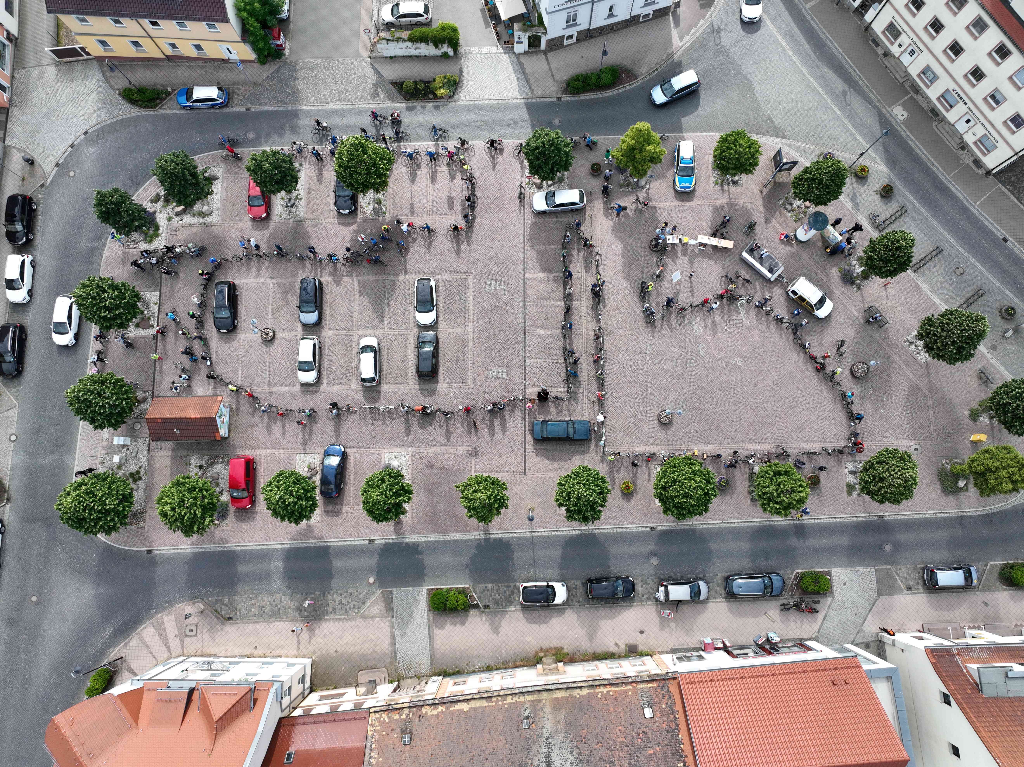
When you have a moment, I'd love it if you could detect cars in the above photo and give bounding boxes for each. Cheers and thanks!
[210,282,238,332]
[786,276,833,318]
[415,332,439,379]
[740,0,763,21]
[655,578,709,613]
[724,571,785,600]
[355,337,382,386]
[520,581,567,606]
[50,295,81,345]
[532,188,586,215]
[413,277,437,326]
[649,71,704,109]
[331,160,357,214]
[177,86,230,113]
[294,337,321,384]
[381,1,431,26]
[296,278,323,325]
[243,169,270,219]
[1,195,37,246]
[533,417,591,442]
[0,324,31,376]
[673,140,699,192]
[6,255,39,304]
[226,456,255,508]
[922,566,978,592]
[586,575,635,601]
[320,444,346,497]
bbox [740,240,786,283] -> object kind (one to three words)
trailer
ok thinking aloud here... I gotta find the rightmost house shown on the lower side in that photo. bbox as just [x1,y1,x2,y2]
[880,610,1024,767]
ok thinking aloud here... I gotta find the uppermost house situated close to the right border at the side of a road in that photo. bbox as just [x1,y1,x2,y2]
[866,0,1024,173]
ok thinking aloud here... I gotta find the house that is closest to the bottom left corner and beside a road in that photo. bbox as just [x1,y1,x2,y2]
[39,647,313,767]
